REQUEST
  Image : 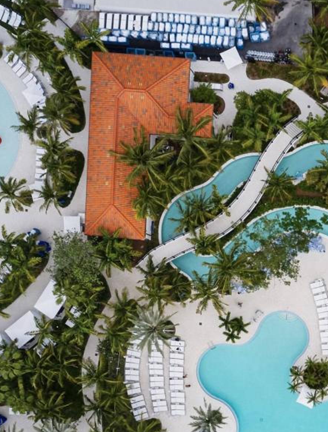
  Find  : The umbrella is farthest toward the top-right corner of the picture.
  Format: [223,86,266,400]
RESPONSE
[218,45,245,72]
